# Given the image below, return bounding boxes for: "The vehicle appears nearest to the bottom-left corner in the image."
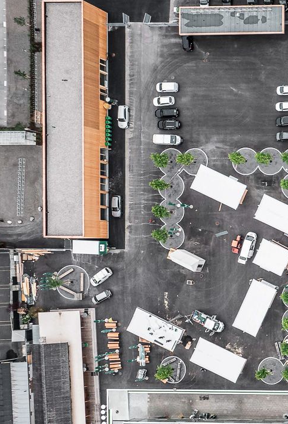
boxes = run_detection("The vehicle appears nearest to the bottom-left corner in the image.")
[92,288,115,306]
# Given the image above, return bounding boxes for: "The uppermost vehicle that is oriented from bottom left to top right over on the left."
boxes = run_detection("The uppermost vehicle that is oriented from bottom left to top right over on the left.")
[90,266,114,287]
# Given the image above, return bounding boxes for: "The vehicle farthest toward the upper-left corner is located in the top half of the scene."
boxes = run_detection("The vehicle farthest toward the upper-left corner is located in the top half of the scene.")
[116,105,130,129]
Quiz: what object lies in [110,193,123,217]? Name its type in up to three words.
vehicle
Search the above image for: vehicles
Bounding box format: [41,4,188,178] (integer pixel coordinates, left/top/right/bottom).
[220,0,233,6]
[155,81,180,93]
[110,193,123,217]
[191,309,226,333]
[229,234,241,254]
[275,100,288,112]
[92,288,115,306]
[90,266,114,287]
[155,107,180,118]
[235,231,258,264]
[276,85,288,96]
[275,116,288,127]
[153,94,177,106]
[277,0,288,13]
[182,35,195,56]
[197,0,210,6]
[276,130,288,142]
[116,105,130,129]
[158,118,183,130]
[245,0,257,6]
[151,133,182,146]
